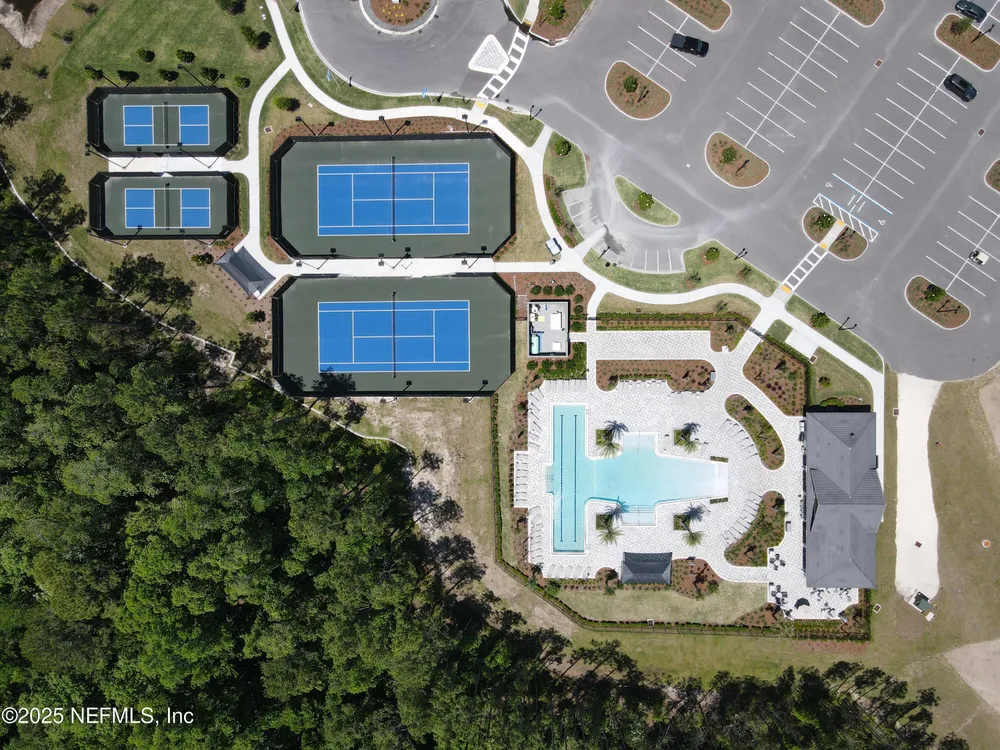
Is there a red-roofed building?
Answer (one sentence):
No, I find no red-roofed building anywhere in the image.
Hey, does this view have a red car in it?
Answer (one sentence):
No, I find no red car anywhere in the image.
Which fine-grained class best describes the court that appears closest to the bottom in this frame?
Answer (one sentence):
The court that appears closest to the bottom can be classified as a tennis court.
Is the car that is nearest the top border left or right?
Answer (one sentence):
The car that is nearest the top border is on the right side of the image.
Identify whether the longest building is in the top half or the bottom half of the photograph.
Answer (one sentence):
It is in the bottom half that the longest building appears.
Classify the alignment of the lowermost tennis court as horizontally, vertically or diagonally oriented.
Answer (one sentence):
Seen from above, the lowermost tennis court lies horizontally.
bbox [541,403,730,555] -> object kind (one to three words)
swimming pool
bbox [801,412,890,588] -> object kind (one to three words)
building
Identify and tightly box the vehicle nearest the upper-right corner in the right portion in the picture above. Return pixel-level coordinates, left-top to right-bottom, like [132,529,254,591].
[954,0,988,22]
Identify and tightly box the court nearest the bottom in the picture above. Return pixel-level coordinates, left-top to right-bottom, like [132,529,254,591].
[277,277,511,396]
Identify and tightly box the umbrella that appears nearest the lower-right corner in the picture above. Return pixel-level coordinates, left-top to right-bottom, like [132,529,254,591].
[795,604,812,619]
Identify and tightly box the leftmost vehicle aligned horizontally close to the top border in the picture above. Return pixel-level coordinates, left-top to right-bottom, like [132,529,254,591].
[669,33,710,56]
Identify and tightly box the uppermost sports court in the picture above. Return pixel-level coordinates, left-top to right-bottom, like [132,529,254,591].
[99,95,226,157]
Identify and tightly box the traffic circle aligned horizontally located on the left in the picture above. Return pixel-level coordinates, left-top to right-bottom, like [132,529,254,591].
[358,0,439,36]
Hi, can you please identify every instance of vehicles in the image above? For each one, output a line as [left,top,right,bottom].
[944,74,976,103]
[969,252,991,266]
[954,0,988,22]
[669,33,710,56]
[547,238,561,257]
